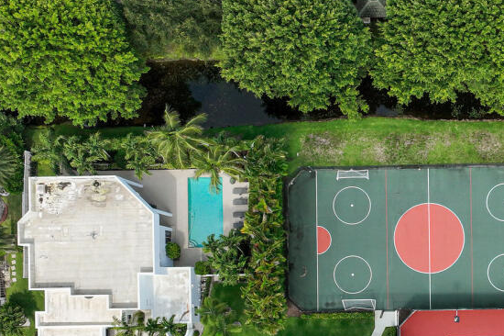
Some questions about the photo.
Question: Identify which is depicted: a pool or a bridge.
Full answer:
Visible in the photo is a pool.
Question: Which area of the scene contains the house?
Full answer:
The house appears toward the bottom left of the photo.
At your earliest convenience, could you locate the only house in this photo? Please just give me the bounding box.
[18,175,202,336]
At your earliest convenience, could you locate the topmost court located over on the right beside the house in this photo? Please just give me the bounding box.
[288,165,504,313]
